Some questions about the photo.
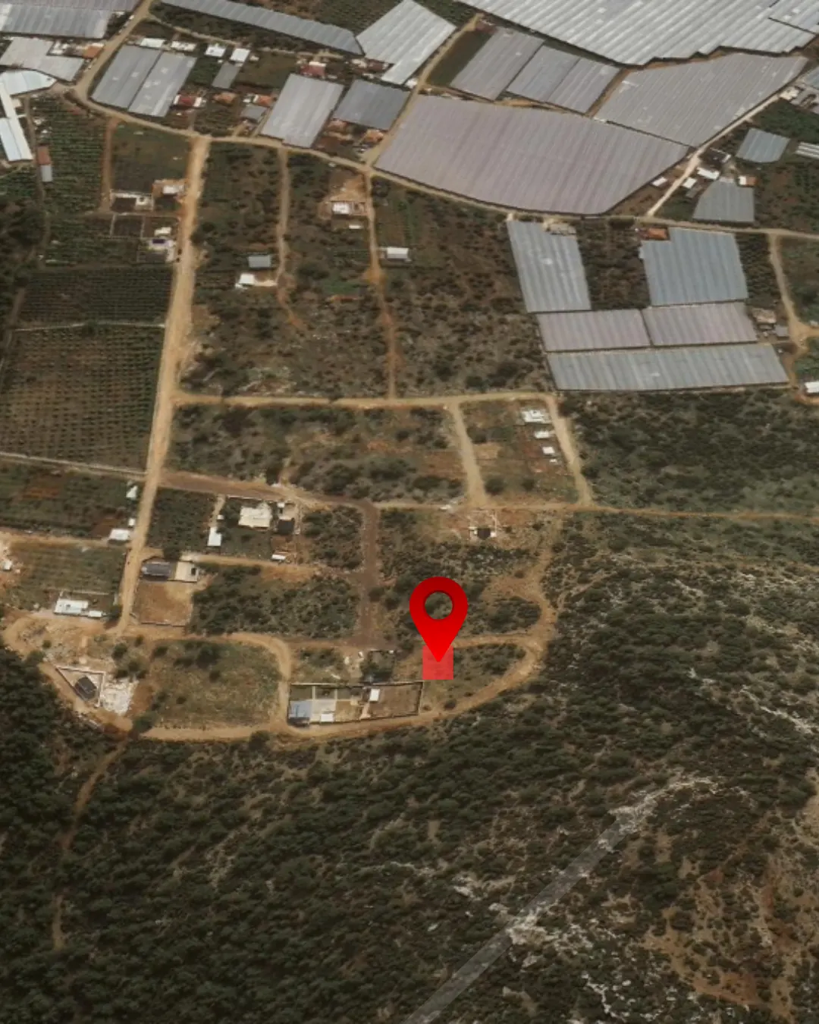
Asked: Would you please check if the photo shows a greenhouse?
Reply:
Yes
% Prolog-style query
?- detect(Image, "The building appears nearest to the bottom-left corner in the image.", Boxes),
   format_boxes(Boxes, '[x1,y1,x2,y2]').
[75,677,97,704]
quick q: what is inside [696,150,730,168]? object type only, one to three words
shed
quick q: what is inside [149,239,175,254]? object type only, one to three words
house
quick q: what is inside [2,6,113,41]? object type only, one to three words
greenhouse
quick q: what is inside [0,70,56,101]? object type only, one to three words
building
